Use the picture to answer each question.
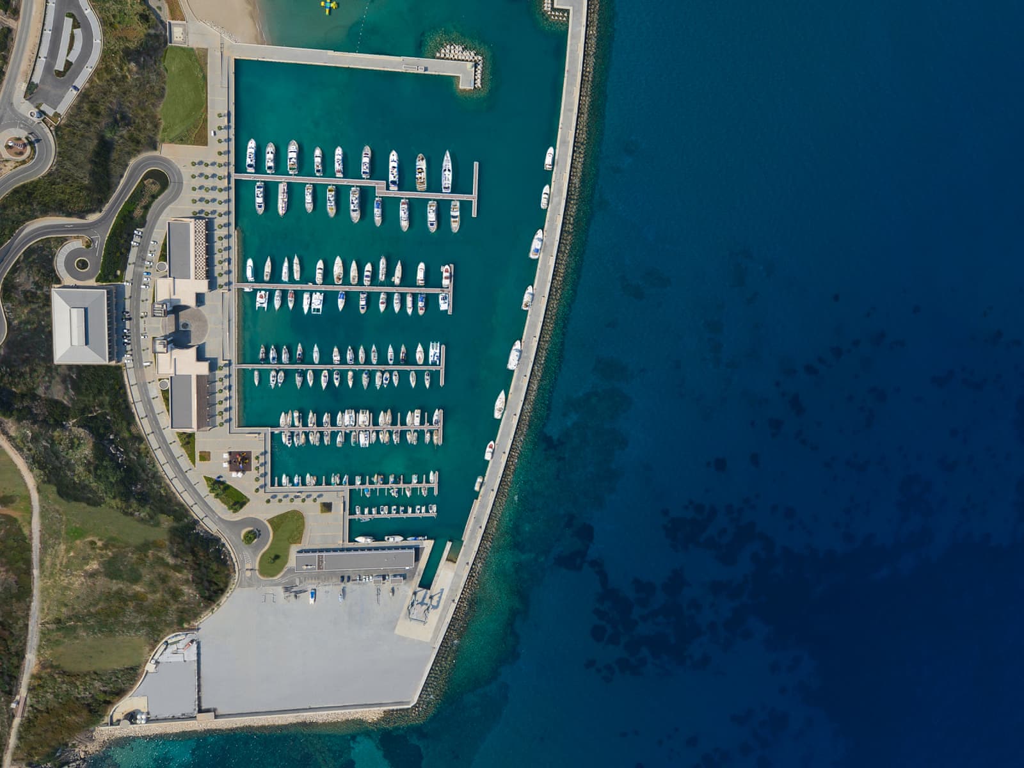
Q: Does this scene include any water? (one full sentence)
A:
Yes, there is water in the image.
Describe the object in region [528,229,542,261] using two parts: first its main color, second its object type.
white boat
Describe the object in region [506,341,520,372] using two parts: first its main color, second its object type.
white boat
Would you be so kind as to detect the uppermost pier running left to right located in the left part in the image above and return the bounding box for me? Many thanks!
[228,41,475,89]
